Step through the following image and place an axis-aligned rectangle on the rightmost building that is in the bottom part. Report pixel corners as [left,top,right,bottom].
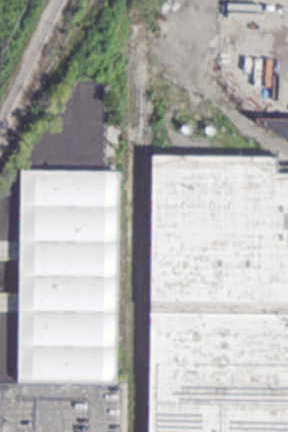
[150,156,288,432]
